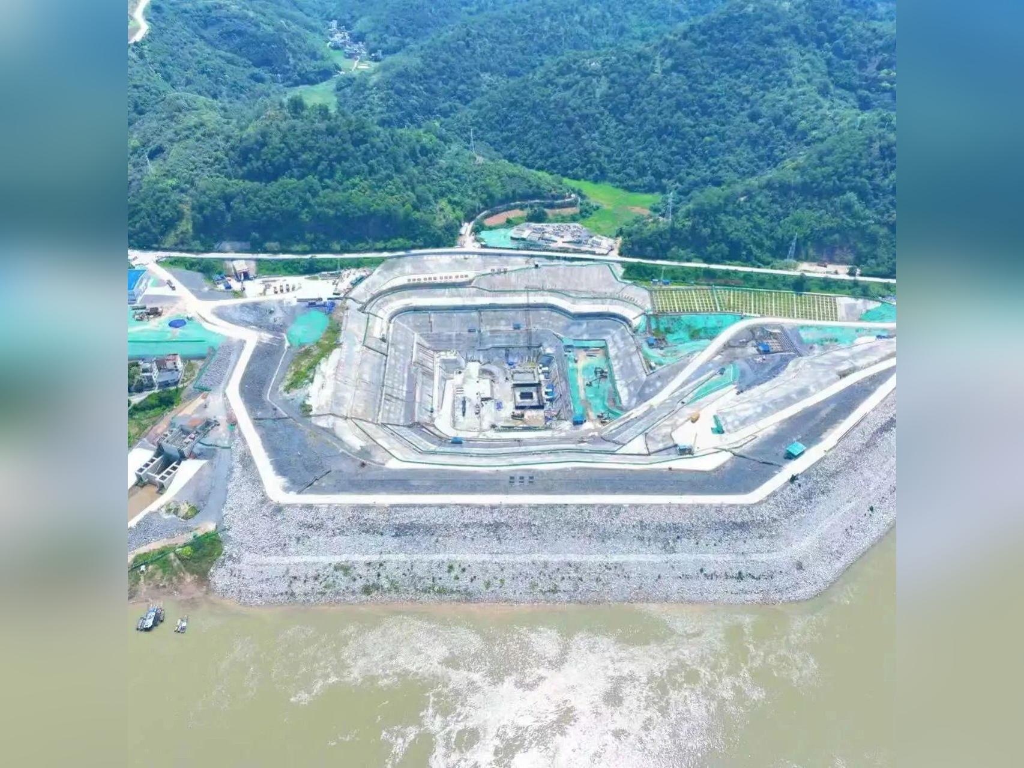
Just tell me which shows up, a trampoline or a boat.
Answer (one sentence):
Of the two, only a boat appears.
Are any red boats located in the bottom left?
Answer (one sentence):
No, in the bottom left there is no red boat.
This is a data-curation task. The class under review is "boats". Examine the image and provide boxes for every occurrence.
[174,616,189,632]
[138,605,166,631]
